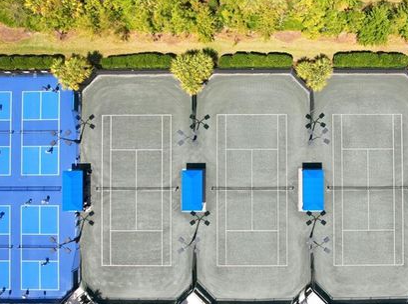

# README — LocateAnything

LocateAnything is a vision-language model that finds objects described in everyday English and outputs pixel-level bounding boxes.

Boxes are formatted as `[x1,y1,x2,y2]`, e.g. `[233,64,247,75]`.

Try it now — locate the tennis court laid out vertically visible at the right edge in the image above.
[311,74,408,304]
